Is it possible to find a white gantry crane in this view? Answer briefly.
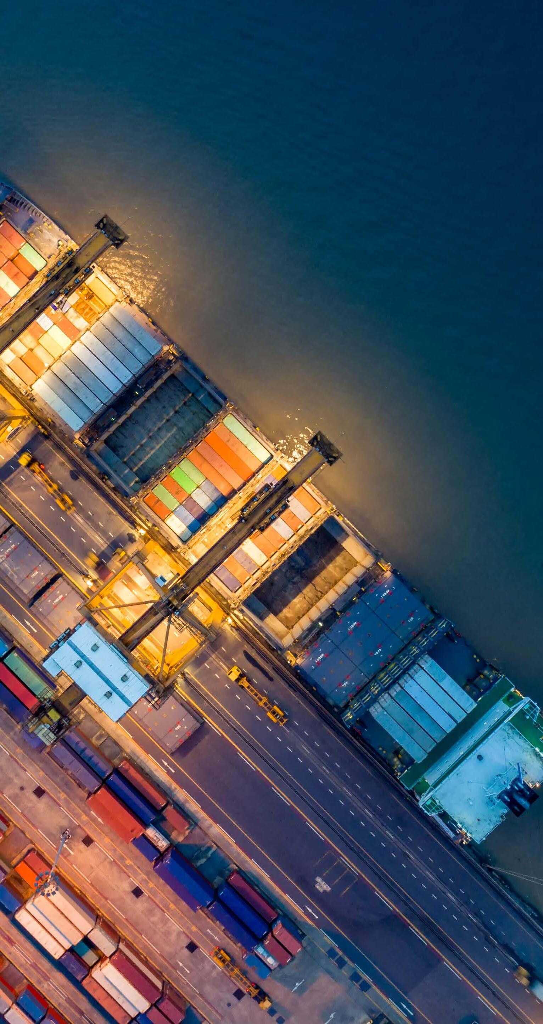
No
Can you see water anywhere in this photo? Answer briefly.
Yes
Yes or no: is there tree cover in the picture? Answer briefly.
No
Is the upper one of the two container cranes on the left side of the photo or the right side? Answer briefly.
left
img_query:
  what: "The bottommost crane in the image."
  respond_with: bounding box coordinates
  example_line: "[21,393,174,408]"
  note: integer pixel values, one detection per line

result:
[22,431,348,746]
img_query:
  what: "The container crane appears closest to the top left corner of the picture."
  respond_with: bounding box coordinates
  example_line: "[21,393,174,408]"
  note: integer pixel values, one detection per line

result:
[0,214,134,501]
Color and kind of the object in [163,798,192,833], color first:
red shipping container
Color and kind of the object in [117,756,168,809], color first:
red shipping container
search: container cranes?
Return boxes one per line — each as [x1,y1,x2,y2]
[22,431,348,746]
[0,214,134,501]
